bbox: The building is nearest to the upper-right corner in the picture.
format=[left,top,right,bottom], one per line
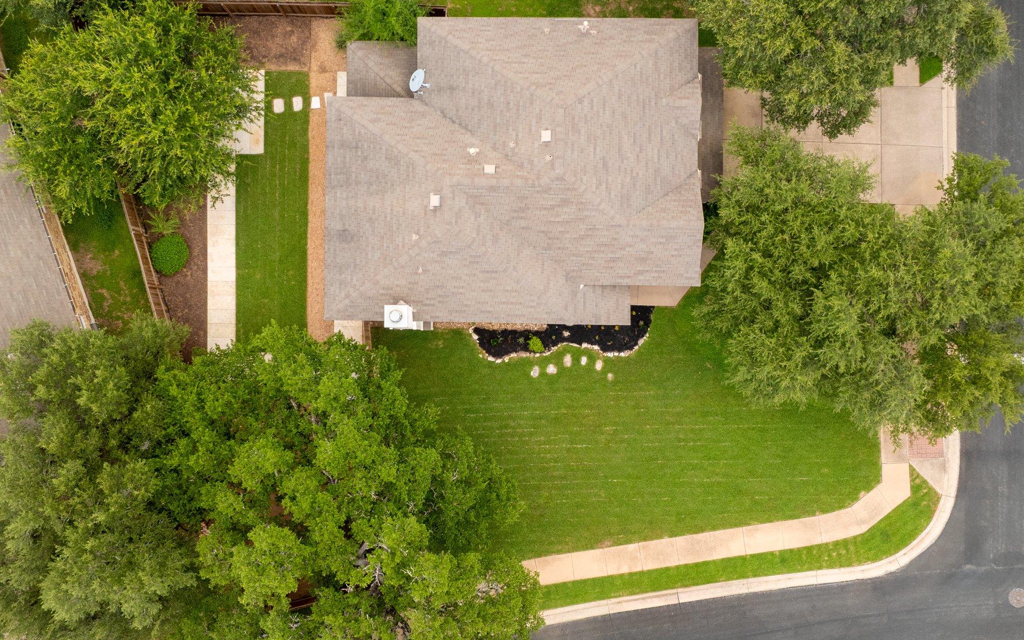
[322,15,726,330]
